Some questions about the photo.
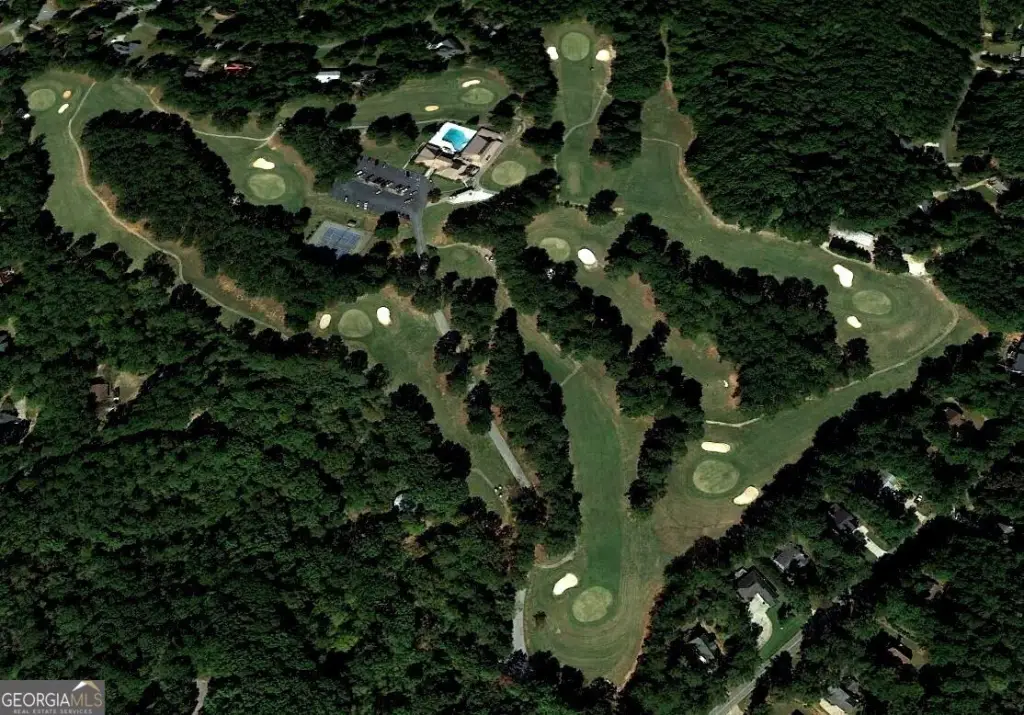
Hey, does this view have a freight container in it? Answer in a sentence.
No, there's no freight container here.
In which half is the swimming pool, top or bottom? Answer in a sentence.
Seen from above, the swimming pool lies in the top half of the view.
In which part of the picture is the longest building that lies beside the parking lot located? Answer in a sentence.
You can find the longest building that lies beside the parking lot in the top area of the picture.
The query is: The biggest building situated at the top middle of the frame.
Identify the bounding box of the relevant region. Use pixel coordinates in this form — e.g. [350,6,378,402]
[418,131,506,182]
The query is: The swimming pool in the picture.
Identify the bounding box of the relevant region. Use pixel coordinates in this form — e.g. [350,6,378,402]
[430,122,477,152]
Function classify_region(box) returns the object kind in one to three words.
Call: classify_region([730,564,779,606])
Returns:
house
